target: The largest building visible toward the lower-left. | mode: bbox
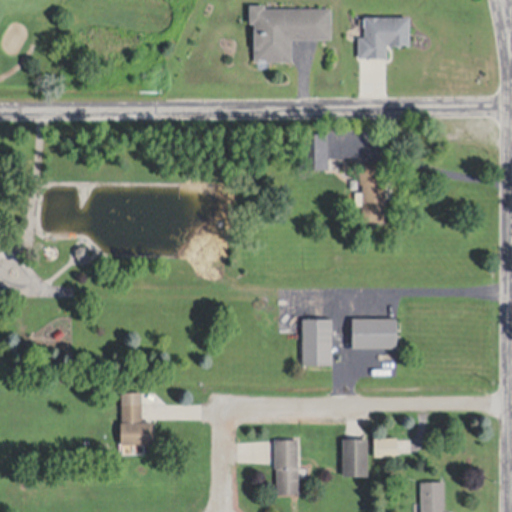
[120,394,153,458]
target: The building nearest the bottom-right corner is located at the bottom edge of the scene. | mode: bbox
[416,480,446,512]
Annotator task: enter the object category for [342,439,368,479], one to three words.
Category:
house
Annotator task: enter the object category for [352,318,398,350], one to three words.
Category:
barn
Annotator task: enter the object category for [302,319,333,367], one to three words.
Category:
barn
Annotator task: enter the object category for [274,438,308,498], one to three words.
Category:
house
